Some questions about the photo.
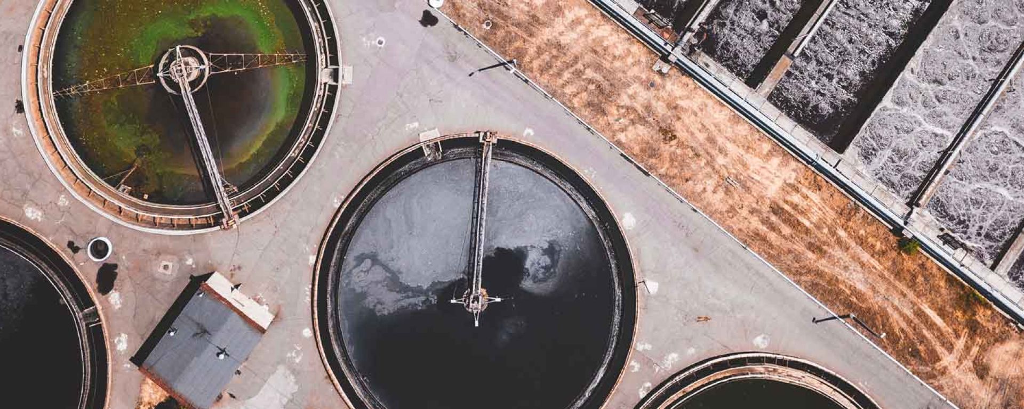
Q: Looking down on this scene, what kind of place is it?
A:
industrial area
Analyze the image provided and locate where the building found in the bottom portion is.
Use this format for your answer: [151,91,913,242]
[135,273,276,409]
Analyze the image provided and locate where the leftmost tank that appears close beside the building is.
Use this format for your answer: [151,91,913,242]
[0,216,113,409]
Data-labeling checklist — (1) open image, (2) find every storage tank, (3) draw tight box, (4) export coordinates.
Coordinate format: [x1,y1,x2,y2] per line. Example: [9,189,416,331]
[312,132,638,409]
[21,0,341,233]
[0,216,113,409]
[638,351,879,409]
